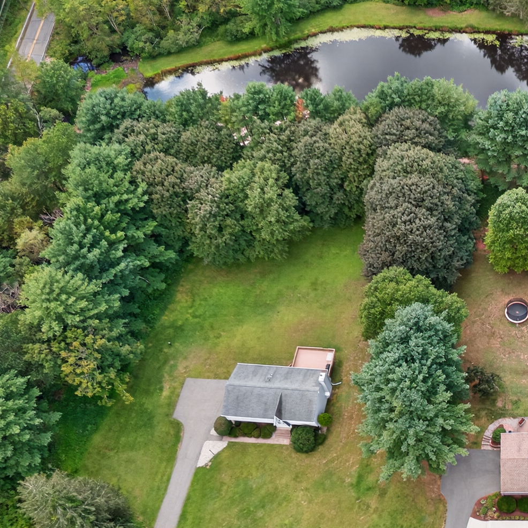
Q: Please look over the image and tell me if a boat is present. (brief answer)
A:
No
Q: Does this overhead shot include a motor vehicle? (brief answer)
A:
No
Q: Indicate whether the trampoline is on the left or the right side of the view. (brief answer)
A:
right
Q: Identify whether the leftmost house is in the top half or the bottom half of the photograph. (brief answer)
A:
bottom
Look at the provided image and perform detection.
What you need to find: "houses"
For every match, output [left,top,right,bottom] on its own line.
[222,364,334,431]
[500,434,528,498]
